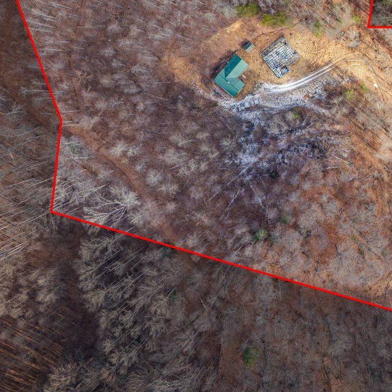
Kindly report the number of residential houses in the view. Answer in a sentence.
My tally gives 2 residential houses in this view.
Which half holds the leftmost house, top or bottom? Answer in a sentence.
It is in the top half that the leftmost house appears.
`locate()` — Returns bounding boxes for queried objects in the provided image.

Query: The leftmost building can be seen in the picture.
[211,55,249,100]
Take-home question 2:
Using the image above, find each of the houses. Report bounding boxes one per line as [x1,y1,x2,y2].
[211,55,249,100]
[261,35,301,78]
